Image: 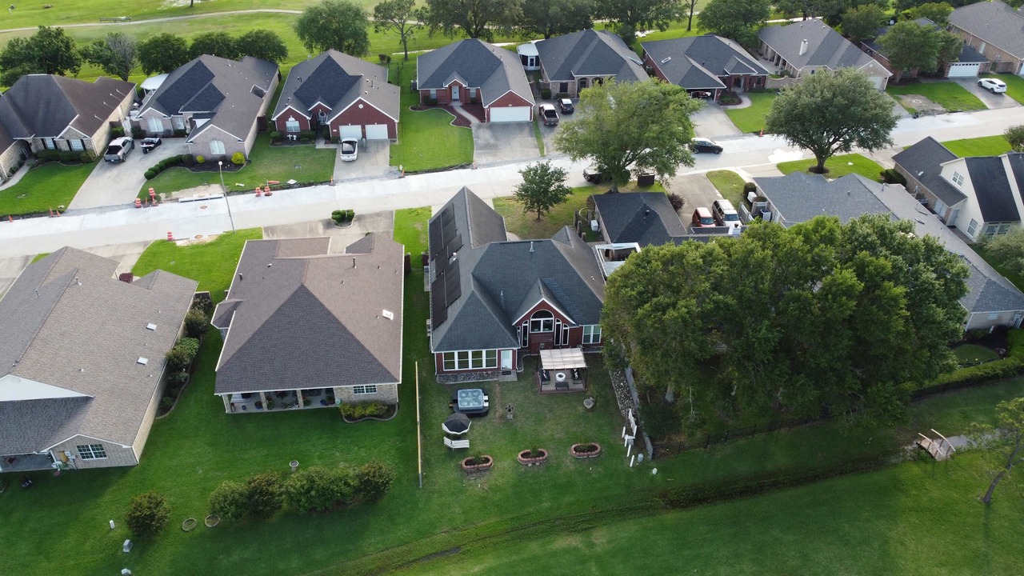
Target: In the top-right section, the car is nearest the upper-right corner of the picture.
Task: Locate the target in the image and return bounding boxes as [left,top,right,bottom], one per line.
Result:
[973,75,1016,93]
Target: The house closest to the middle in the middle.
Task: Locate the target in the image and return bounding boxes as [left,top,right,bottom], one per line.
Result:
[428,188,618,380]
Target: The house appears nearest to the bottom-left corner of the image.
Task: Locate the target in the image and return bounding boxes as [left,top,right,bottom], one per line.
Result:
[0,242,201,478]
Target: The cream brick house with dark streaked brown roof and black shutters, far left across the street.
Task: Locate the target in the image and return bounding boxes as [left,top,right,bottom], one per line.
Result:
[0,62,143,189]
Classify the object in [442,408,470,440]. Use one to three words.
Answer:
umbrella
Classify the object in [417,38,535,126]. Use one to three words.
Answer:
house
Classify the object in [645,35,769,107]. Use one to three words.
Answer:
house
